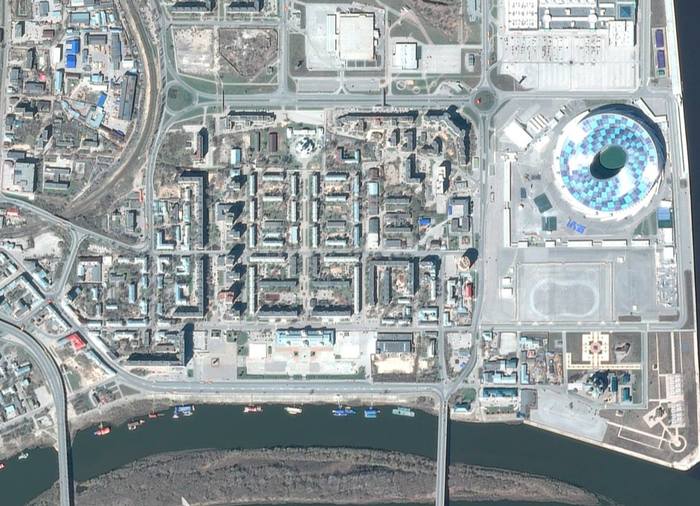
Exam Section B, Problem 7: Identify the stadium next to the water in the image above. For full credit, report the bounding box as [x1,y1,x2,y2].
[550,103,669,221]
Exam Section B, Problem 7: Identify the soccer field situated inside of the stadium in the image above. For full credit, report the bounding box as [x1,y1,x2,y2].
[591,142,628,179]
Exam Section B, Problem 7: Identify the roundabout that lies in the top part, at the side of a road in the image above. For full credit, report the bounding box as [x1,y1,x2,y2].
[470,84,500,116]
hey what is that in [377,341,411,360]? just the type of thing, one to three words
building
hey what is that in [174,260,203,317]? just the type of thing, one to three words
building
